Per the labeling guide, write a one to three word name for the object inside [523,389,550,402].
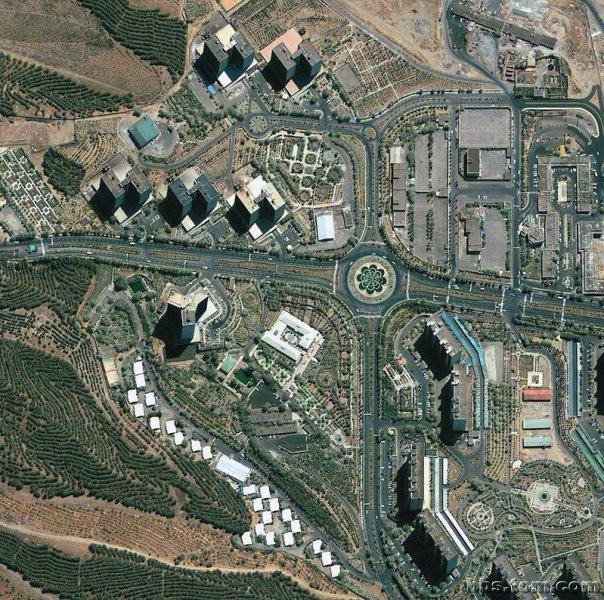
shed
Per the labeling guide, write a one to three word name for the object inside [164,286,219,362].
building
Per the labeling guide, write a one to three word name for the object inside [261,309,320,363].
building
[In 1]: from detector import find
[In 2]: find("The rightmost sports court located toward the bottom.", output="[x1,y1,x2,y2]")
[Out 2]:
[488,341,504,382]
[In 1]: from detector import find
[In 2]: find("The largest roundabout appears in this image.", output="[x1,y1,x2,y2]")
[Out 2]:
[347,256,396,303]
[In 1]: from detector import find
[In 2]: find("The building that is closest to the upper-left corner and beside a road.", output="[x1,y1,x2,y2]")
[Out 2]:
[127,114,160,151]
